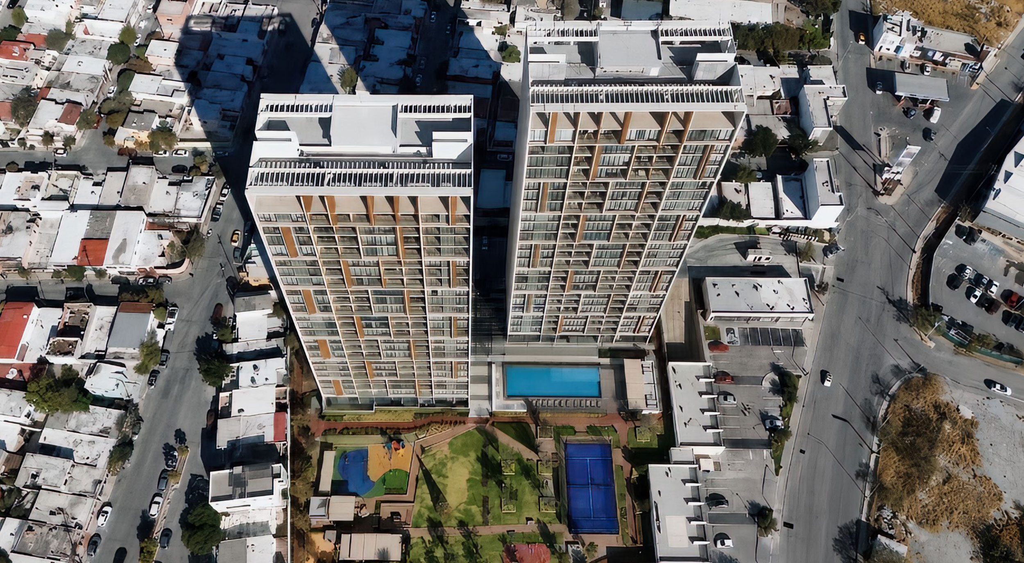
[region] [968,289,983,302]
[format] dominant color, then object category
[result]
white vehicle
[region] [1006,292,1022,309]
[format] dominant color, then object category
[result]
red car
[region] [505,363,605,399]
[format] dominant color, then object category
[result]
blue swimming pool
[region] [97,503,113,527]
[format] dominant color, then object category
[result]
white car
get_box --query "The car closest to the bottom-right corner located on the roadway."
[989,380,1010,394]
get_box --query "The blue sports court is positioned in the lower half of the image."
[563,438,622,536]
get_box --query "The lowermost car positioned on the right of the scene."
[712,537,735,549]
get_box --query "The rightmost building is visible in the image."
[955,127,1024,277]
